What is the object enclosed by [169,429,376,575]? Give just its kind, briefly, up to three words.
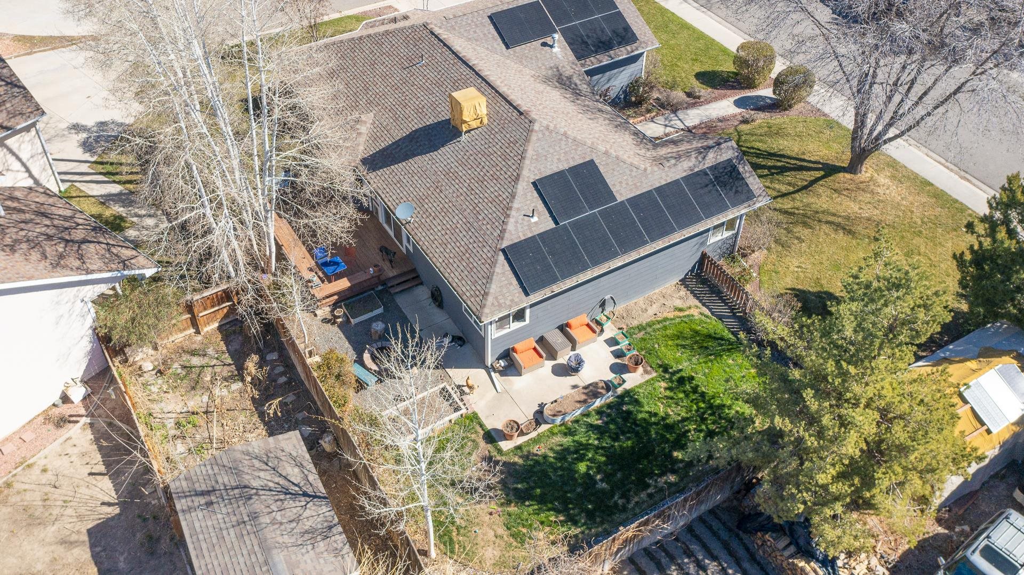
shed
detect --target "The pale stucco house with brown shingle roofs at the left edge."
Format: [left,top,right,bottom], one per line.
[0,61,162,440]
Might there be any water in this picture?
No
